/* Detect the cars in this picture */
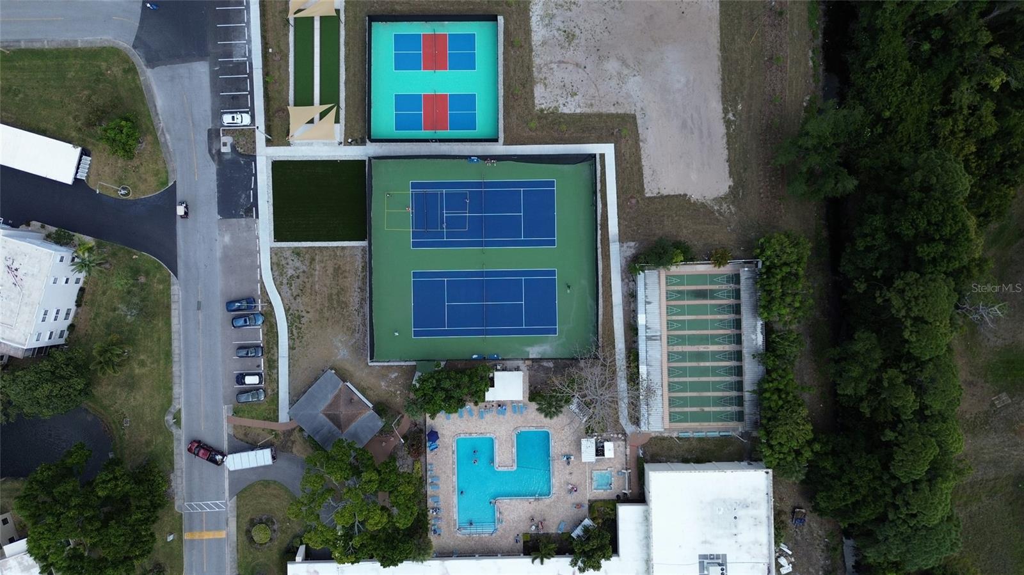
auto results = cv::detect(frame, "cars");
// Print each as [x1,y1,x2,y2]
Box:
[222,112,252,127]
[237,373,263,386]
[233,313,264,328]
[236,389,266,404]
[227,298,257,312]
[236,345,264,358]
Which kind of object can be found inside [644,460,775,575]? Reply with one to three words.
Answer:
building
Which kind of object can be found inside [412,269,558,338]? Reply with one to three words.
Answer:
tennis court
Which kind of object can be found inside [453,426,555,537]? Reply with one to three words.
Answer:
swimming pool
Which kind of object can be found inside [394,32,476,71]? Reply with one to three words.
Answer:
sports court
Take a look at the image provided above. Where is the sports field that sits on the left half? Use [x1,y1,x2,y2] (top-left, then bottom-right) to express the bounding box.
[273,159,366,242]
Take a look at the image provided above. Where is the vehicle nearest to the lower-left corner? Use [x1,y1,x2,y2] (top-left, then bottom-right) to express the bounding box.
[187,440,227,465]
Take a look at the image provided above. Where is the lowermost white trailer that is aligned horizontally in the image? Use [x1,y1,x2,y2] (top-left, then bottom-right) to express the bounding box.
[225,445,283,469]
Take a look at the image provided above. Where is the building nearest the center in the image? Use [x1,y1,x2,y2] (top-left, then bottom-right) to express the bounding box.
[485,370,523,405]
